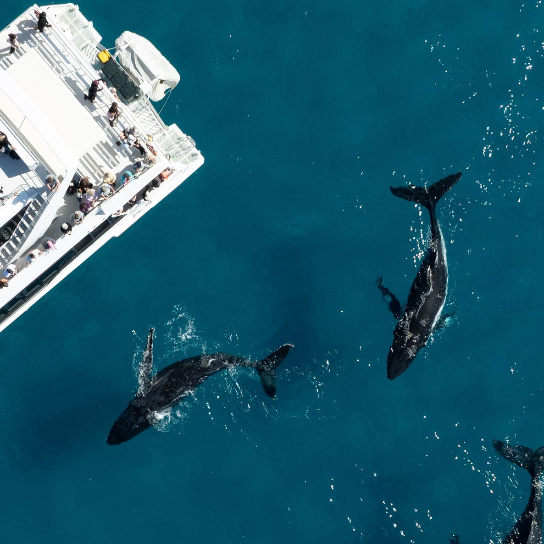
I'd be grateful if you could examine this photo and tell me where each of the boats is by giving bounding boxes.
[118,29,178,103]
[0,8,202,337]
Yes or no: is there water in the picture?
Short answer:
Yes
